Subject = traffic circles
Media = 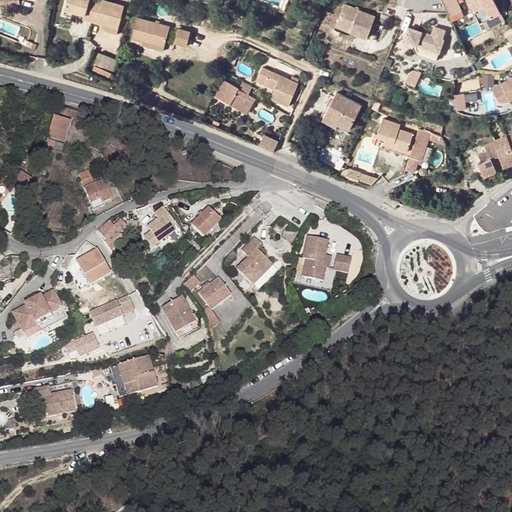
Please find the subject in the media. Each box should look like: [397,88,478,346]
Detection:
[385,228,468,310]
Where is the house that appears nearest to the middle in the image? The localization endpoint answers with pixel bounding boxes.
[238,236,279,288]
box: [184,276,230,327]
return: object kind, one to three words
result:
house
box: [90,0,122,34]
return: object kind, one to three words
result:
house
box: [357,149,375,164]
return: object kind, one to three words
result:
swimming pool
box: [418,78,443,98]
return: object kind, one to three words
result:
swimming pool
